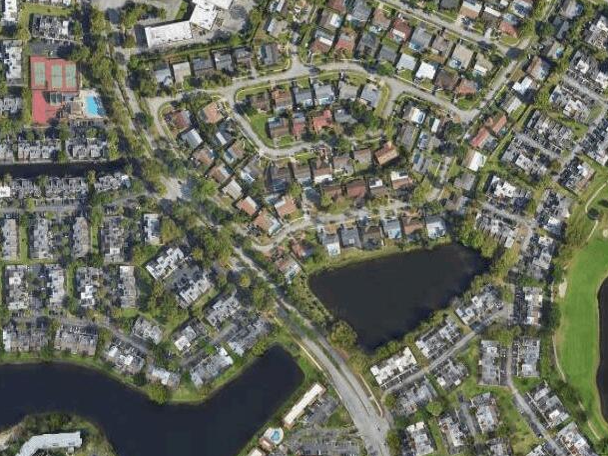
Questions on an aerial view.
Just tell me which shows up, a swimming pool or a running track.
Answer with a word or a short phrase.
swimming pool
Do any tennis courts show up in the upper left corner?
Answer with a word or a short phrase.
Yes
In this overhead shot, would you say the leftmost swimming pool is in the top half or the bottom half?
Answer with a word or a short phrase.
top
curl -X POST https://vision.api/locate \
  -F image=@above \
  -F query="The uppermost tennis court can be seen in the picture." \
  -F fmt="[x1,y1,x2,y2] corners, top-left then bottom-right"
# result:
[29,57,78,92]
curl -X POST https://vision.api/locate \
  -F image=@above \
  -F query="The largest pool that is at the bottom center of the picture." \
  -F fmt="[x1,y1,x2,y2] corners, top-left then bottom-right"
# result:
[265,427,283,444]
